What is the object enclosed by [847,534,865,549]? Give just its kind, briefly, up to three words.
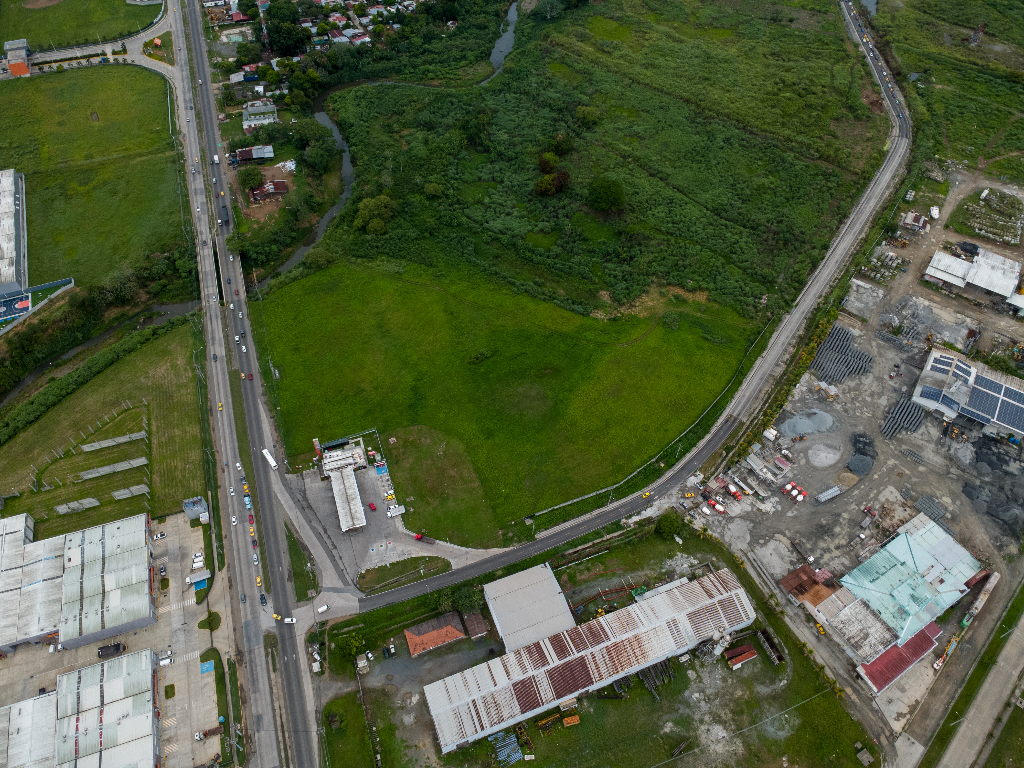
vehicle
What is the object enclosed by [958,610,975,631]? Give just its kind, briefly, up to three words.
vehicle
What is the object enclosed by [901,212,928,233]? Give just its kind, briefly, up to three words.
shed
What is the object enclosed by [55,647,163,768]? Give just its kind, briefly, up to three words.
building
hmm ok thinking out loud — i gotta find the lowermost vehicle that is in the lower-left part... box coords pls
[197,725,220,738]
